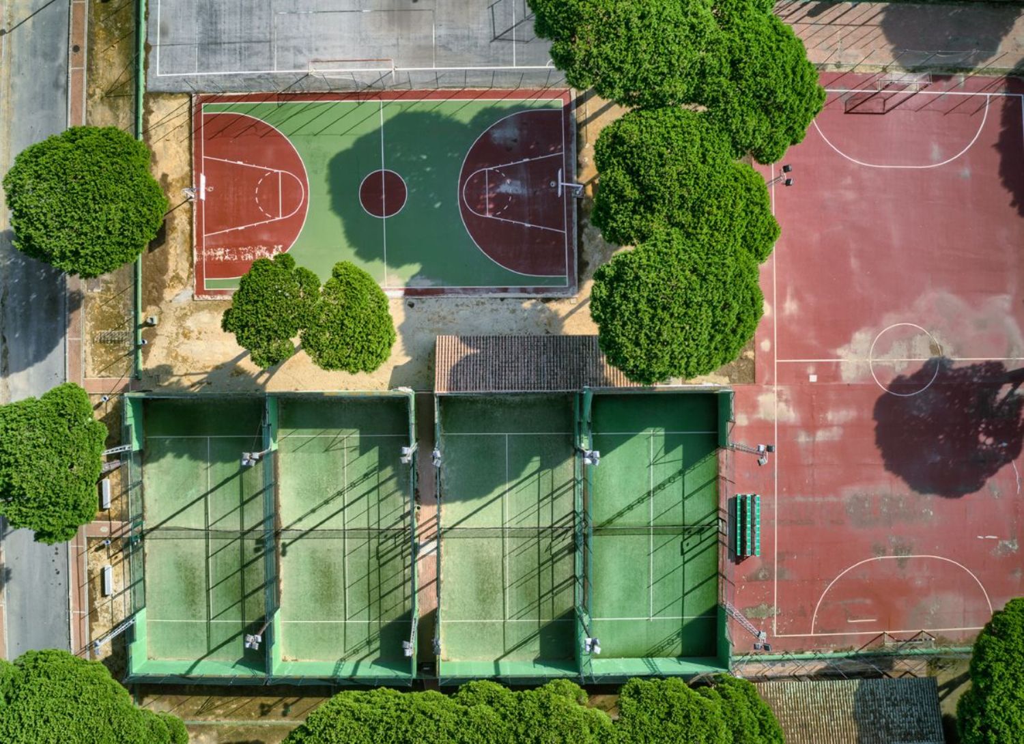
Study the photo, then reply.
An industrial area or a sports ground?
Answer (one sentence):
This image shows a sports ground.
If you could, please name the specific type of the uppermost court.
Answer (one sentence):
Looking closely, the uppermost court is a basketball court.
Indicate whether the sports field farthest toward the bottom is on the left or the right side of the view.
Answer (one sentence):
The sports field farthest toward the bottom is on the right side of the image.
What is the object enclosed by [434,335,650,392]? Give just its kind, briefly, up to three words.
building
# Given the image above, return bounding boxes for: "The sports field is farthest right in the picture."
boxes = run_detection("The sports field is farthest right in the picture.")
[730,71,1024,658]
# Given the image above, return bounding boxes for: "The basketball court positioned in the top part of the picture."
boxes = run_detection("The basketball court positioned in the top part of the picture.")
[194,88,578,300]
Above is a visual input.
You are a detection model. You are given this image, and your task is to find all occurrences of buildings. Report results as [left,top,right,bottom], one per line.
[749,676,950,744]
[434,335,650,392]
